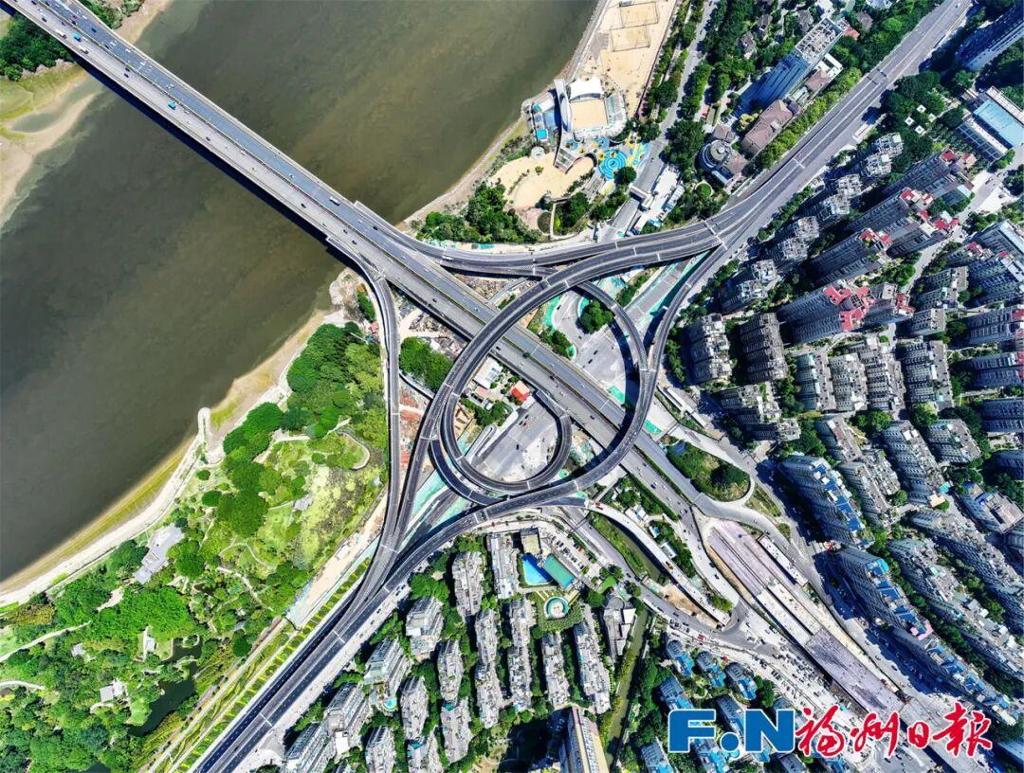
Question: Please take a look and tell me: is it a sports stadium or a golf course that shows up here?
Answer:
sports stadium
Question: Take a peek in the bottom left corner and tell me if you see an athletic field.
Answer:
No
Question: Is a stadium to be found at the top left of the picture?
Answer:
No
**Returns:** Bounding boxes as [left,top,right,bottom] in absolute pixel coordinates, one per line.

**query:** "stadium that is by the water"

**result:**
[553,74,625,176]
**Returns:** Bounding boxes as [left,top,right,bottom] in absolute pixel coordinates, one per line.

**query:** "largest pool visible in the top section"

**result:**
[545,108,558,128]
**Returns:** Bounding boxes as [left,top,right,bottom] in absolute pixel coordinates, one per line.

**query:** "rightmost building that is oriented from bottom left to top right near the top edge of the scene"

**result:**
[962,3,1024,77]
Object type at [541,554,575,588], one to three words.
swimming pool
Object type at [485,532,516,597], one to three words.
building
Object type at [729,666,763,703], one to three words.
house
